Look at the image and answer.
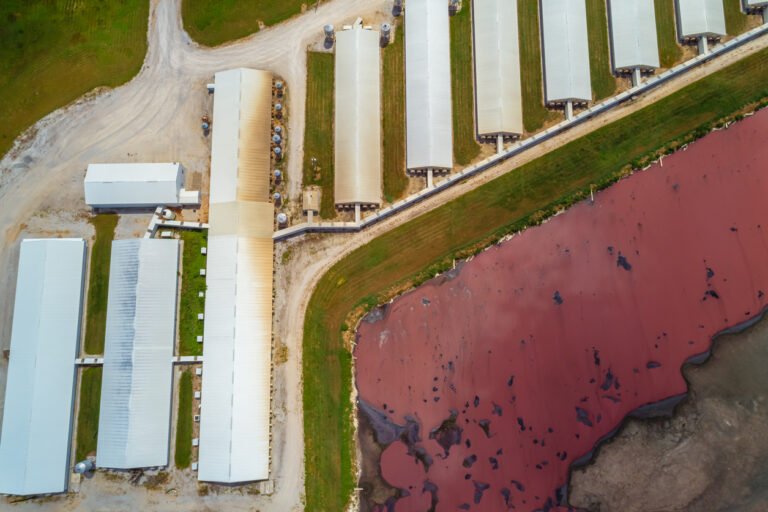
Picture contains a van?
No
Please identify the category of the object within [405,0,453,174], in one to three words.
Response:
barn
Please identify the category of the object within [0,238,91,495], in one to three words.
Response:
barn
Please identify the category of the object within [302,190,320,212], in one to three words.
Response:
shed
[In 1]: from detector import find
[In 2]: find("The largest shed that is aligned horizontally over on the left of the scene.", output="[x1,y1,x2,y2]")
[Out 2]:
[84,164,186,207]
